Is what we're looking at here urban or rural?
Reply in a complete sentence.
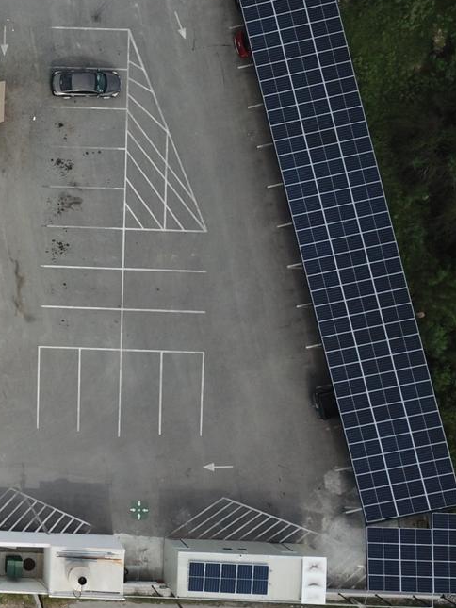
The land in this view is best described as urban.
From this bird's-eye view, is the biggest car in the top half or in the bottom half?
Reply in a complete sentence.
The top half of the photo is where the biggest car is.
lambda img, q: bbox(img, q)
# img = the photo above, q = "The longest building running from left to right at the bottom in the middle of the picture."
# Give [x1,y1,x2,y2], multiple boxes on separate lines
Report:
[165,540,304,606]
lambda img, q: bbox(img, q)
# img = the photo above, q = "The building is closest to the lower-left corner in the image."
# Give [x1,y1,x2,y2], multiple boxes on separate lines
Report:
[42,535,125,601]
